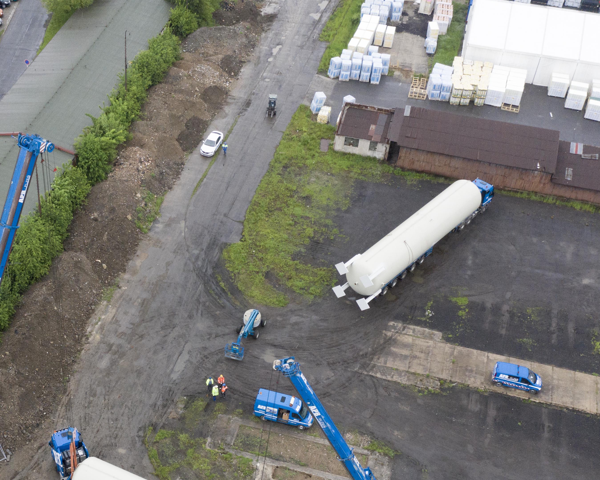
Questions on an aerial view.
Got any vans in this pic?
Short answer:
Yes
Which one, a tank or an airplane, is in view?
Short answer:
tank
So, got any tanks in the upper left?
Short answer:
No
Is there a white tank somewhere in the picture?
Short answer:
Yes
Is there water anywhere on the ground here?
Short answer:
No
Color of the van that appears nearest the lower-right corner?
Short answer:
blue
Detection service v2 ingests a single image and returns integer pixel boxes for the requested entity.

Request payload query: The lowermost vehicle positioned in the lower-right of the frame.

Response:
[491,362,541,396]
